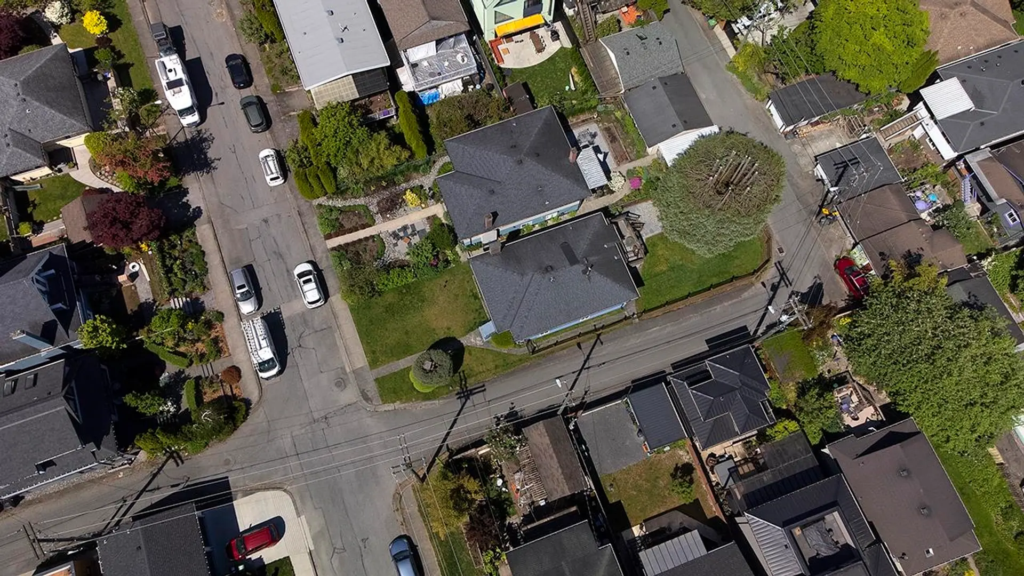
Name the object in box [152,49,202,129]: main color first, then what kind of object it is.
white camper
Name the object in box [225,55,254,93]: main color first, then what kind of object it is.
black car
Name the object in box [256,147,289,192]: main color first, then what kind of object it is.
white car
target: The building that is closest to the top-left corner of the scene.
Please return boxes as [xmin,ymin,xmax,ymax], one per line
[0,43,97,191]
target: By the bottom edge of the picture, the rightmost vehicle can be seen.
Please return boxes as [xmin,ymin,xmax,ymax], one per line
[387,531,425,576]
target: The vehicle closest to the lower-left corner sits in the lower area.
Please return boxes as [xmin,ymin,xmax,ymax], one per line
[227,517,286,558]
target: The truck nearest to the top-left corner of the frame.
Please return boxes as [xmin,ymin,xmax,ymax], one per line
[142,13,179,56]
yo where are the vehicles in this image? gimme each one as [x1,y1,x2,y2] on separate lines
[229,267,261,316]
[142,13,179,56]
[293,260,328,312]
[225,55,254,93]
[387,531,425,576]
[227,517,286,558]
[232,312,285,387]
[239,95,271,138]
[256,147,289,192]
[152,49,202,129]
[829,254,878,311]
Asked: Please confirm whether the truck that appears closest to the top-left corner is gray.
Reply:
Yes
